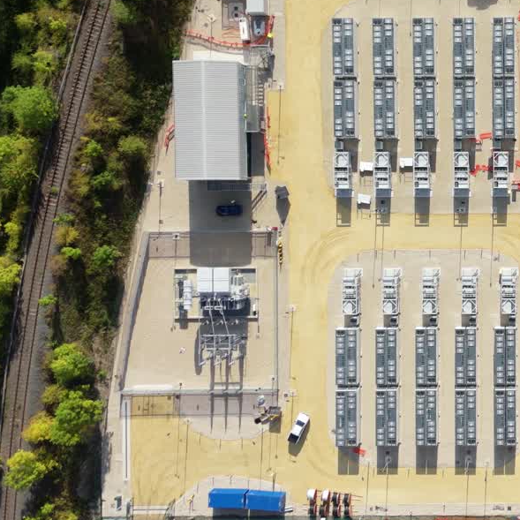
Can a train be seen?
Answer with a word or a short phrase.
No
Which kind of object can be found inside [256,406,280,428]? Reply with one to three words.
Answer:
work vehicle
